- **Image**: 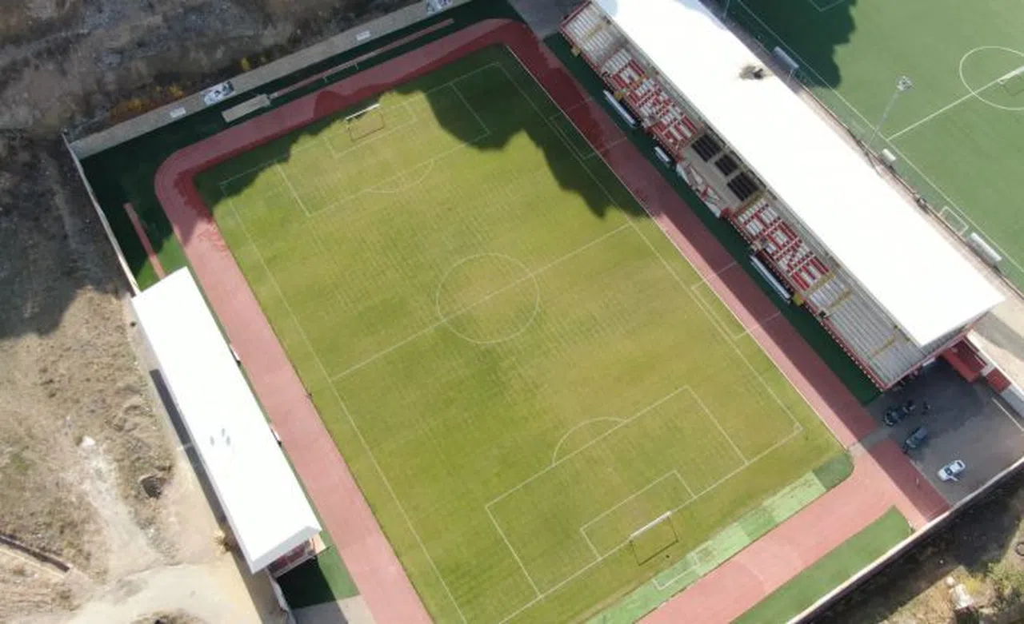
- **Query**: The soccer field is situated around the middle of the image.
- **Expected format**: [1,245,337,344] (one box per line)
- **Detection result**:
[197,42,850,624]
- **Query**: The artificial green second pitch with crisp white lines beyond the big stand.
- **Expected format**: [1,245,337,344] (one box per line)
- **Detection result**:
[712,0,1024,297]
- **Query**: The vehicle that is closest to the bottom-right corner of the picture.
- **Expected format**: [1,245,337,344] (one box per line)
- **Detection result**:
[937,461,966,483]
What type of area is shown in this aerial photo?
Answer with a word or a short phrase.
sports ground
